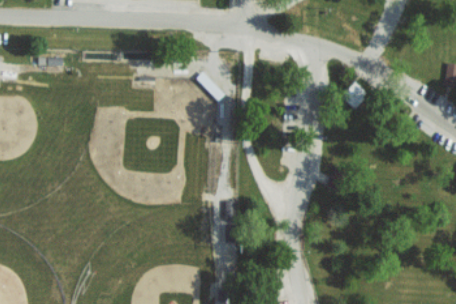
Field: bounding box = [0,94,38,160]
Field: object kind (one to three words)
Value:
baseball field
